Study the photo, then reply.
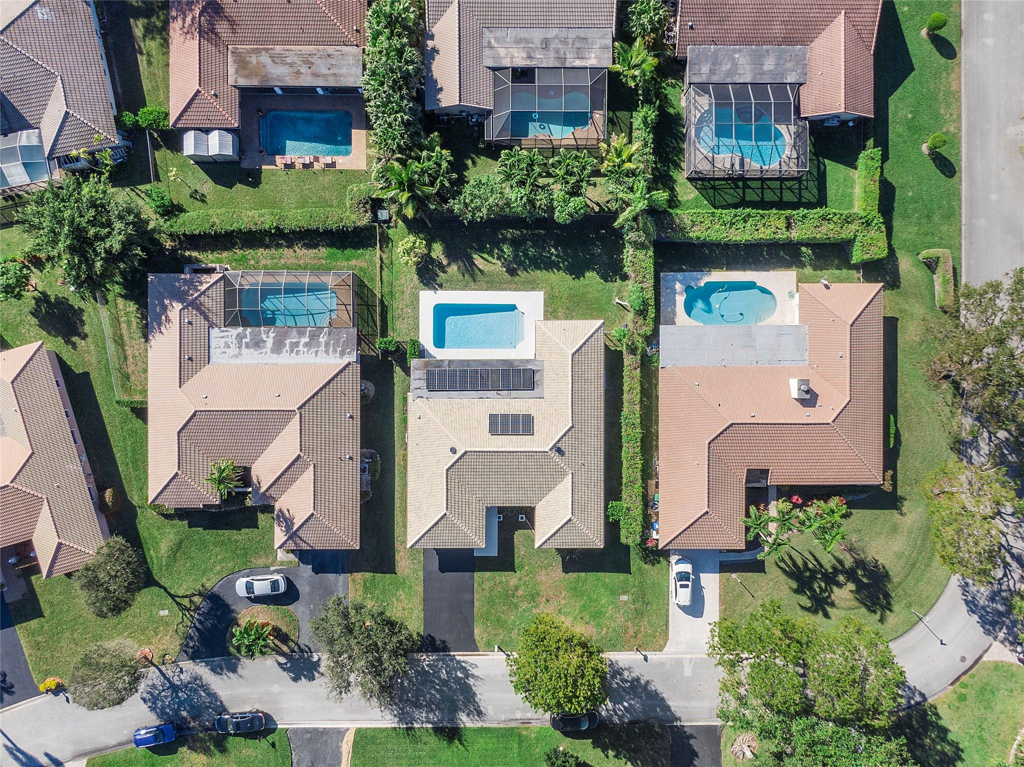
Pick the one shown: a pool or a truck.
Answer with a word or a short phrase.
pool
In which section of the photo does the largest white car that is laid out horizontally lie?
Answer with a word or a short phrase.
bottom left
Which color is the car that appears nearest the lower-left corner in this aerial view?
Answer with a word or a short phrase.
blue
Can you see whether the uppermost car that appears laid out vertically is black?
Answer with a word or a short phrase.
No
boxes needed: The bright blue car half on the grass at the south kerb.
[126,724,178,755]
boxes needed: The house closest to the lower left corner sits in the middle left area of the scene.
[0,340,116,580]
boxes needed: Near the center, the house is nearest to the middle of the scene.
[406,318,606,550]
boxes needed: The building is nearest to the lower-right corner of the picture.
[658,282,886,550]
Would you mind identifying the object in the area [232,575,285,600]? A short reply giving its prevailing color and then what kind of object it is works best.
white car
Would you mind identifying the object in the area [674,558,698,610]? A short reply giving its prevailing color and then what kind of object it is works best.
white car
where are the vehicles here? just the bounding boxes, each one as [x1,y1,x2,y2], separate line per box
[126,724,178,755]
[549,712,600,740]
[213,713,264,741]
[674,558,698,610]
[232,575,285,600]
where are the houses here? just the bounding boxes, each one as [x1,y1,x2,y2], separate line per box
[0,0,126,159]
[168,0,369,131]
[676,0,883,120]
[425,0,617,111]
[146,272,361,550]
[406,318,606,550]
[0,340,116,580]
[658,282,886,550]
